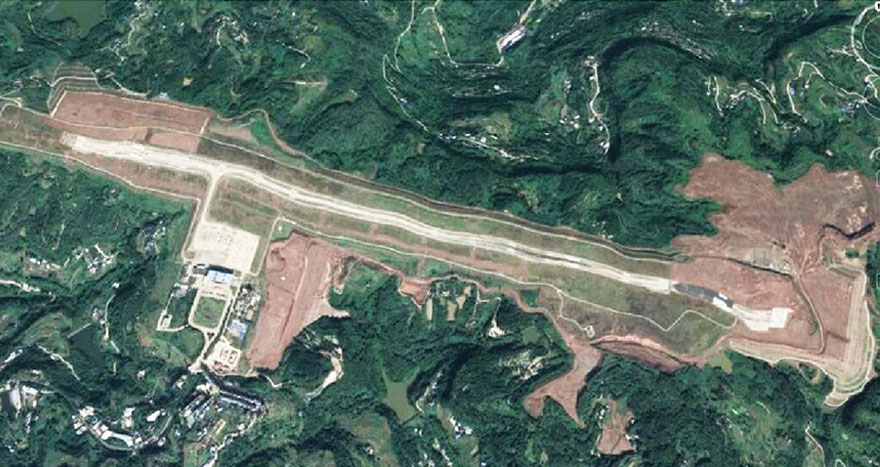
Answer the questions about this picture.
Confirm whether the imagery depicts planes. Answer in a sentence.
No, the scene contains no plane.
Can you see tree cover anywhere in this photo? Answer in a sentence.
Yes, there's tree cover in this view.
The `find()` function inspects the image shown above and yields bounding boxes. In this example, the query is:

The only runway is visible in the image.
[59,134,790,331]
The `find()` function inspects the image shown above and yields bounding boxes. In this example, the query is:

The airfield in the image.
[0,101,790,378]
